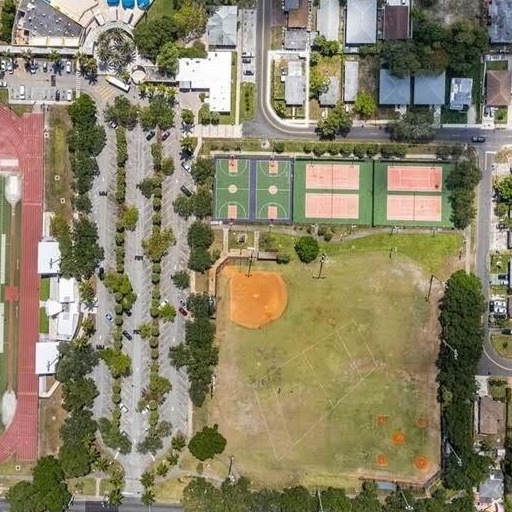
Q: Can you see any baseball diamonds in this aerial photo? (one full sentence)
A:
Yes, there is a baseball diamond in the image.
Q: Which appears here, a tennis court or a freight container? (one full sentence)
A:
I can see a tennis court in this picture.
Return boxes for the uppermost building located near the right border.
[487,0,512,43]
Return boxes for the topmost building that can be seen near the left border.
[18,0,84,38]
